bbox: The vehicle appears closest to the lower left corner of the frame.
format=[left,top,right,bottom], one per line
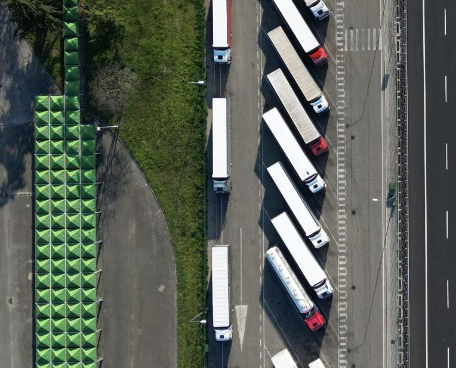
[212,245,232,343]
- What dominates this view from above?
paved ground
